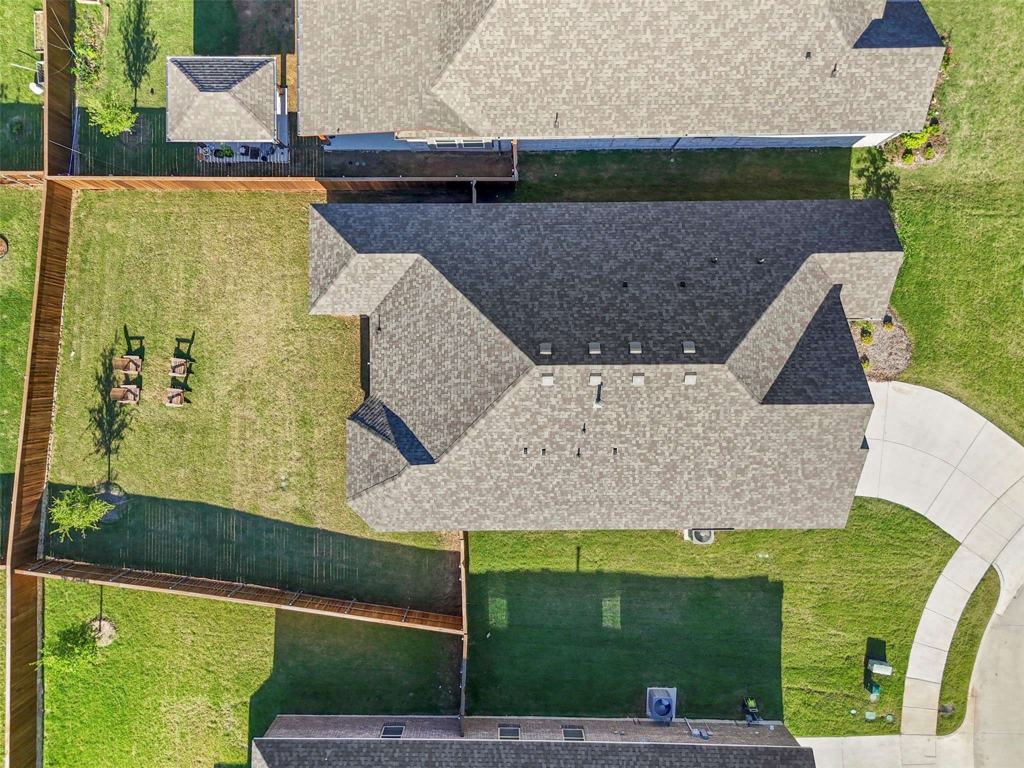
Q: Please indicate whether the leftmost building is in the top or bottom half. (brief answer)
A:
top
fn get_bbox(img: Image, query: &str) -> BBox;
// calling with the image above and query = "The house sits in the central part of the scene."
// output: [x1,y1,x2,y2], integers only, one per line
[308,200,902,530]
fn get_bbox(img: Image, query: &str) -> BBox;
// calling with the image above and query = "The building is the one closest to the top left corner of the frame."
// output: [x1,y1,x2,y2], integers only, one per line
[166,56,288,150]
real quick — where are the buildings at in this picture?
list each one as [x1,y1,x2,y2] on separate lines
[294,0,938,149]
[308,200,902,530]
[250,714,813,768]
[166,56,288,150]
